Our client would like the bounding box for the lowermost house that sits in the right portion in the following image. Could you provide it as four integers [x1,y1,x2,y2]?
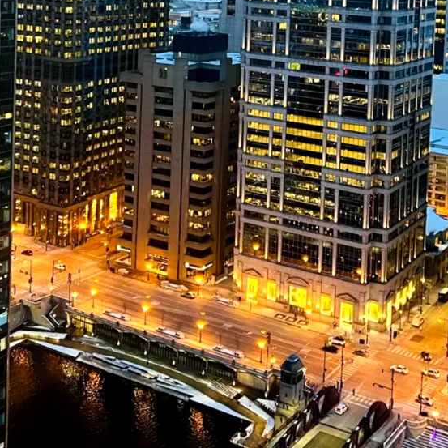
[258,349,325,441]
